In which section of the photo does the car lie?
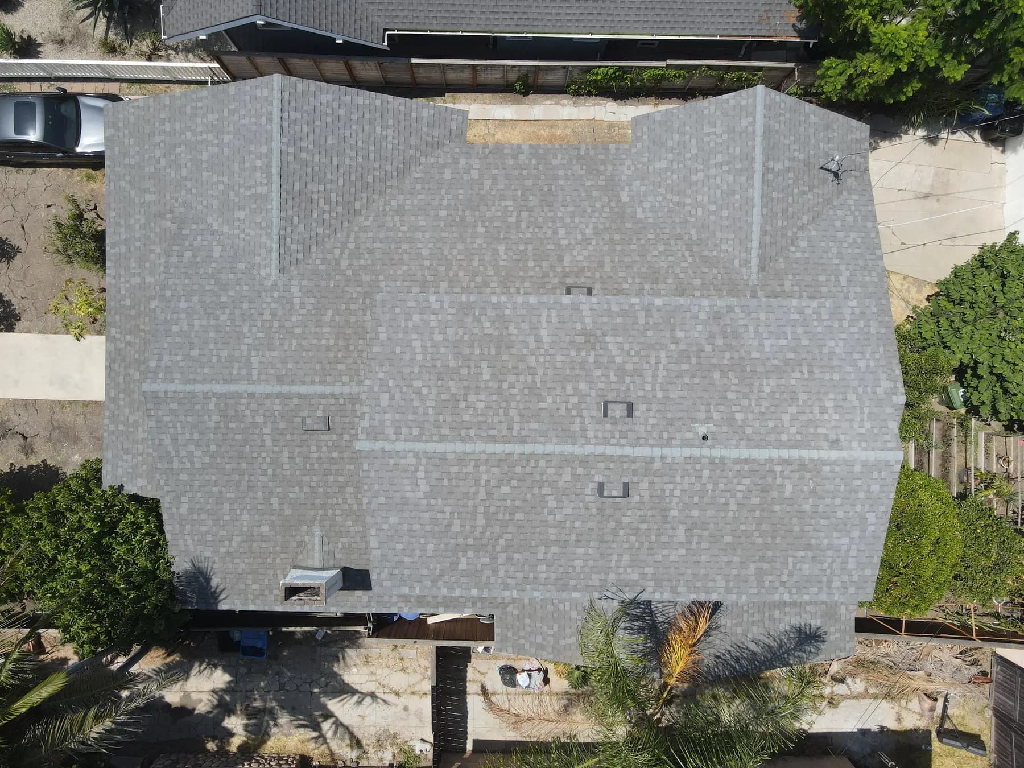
top left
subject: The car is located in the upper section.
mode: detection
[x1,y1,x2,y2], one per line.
[0,81,122,163]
